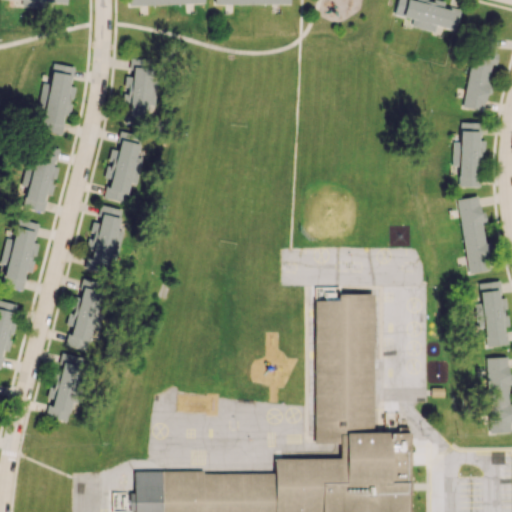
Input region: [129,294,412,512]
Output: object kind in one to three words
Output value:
building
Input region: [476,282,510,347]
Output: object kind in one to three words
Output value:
house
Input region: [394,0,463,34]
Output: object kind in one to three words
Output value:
house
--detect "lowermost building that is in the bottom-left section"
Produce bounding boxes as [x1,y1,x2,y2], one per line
[48,353,87,424]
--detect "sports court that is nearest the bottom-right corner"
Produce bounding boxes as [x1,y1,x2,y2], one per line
[384,286,427,388]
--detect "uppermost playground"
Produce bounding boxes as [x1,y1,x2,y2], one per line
[316,0,363,22]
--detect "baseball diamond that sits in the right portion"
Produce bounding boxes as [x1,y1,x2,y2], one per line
[301,182,359,242]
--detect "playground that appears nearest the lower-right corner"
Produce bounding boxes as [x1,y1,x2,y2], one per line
[250,332,298,403]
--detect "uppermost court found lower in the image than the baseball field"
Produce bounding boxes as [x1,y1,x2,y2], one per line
[282,248,427,286]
